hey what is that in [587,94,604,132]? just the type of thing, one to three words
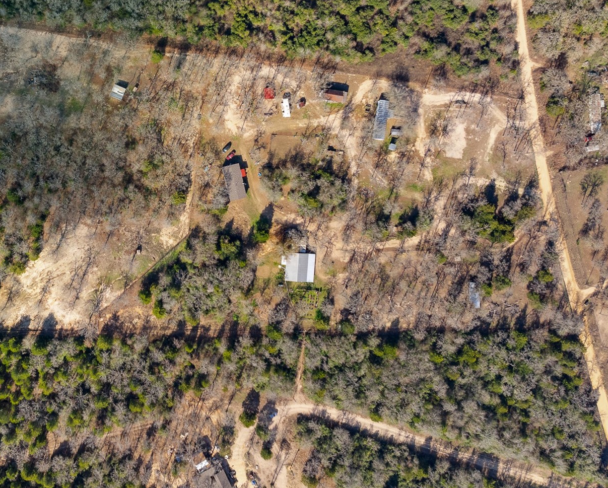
house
